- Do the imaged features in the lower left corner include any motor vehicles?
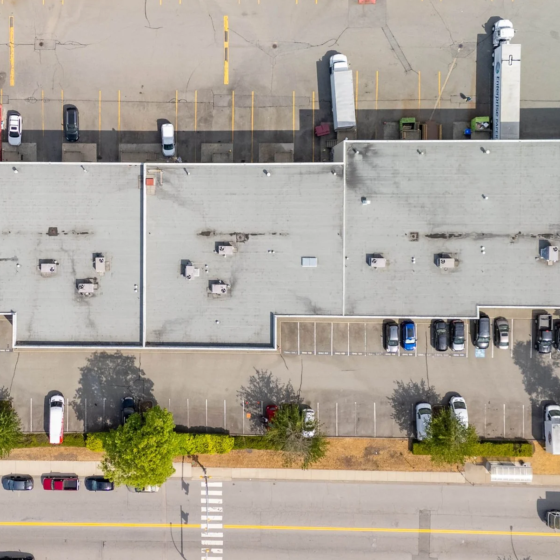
Yes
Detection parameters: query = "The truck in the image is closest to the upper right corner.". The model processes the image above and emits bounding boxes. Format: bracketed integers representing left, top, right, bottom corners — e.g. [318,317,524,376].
[490,10,515,66]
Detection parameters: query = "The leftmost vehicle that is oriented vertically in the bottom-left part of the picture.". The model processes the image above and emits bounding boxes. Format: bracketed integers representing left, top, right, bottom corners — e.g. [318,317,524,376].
[50,396,67,443]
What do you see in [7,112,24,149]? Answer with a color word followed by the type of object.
white car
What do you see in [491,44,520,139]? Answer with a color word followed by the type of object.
white trailer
